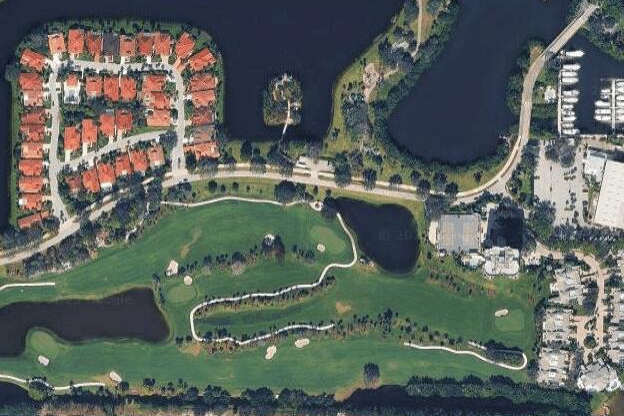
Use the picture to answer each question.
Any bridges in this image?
Yes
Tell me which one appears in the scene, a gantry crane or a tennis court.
tennis court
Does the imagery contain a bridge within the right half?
Yes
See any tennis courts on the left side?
No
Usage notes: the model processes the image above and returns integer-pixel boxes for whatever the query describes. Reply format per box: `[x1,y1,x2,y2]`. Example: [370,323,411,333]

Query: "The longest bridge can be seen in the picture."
[543,4,593,55]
